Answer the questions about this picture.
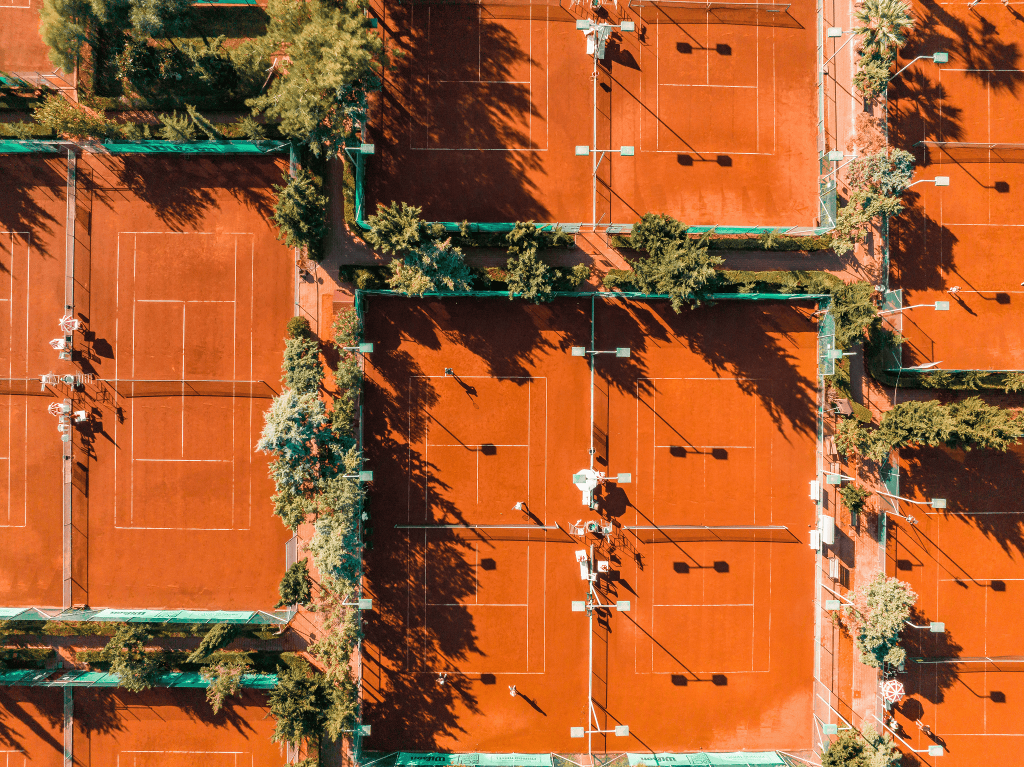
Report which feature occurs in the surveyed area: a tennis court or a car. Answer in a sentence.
This aerial view contains a tennis court.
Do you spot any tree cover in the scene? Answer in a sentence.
Yes, there is tree cover in the image.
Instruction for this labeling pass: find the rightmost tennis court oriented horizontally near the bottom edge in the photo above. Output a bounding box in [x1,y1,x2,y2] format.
[72,672,297,767]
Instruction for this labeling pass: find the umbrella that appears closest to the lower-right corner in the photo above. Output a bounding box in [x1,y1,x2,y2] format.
[876,676,902,700]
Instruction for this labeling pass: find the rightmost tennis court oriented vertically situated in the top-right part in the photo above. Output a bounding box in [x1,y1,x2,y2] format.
[881,0,1024,371]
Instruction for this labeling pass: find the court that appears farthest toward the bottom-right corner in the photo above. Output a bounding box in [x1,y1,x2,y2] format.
[877,436,1024,767]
